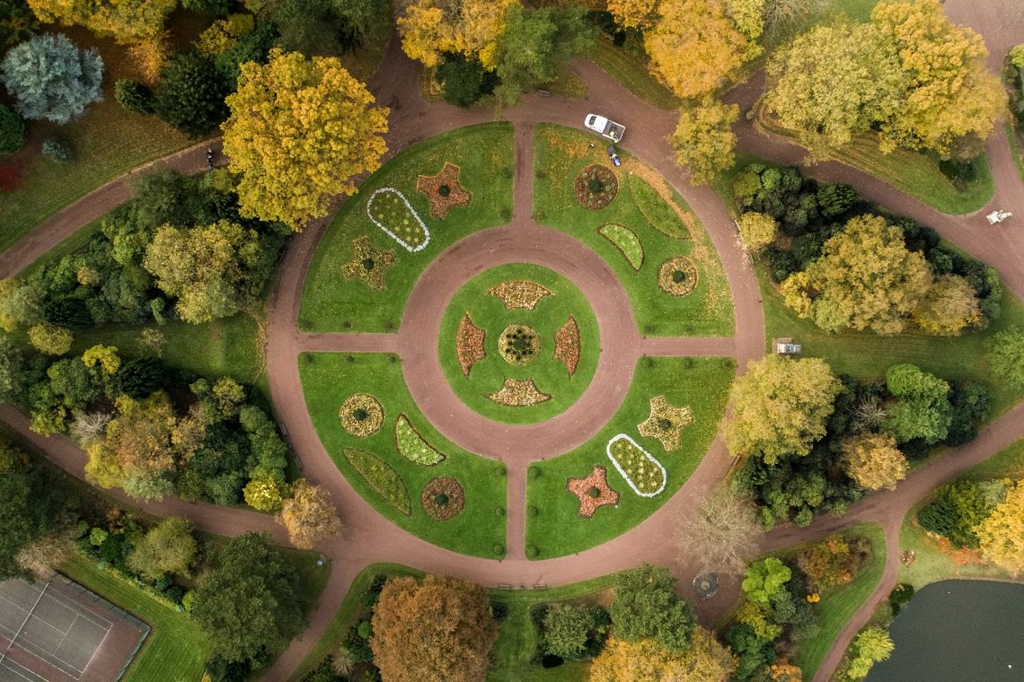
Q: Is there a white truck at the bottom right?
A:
No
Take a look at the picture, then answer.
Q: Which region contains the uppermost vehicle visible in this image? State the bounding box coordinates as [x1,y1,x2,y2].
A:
[583,113,625,139]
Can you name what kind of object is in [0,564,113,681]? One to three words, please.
tennis court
